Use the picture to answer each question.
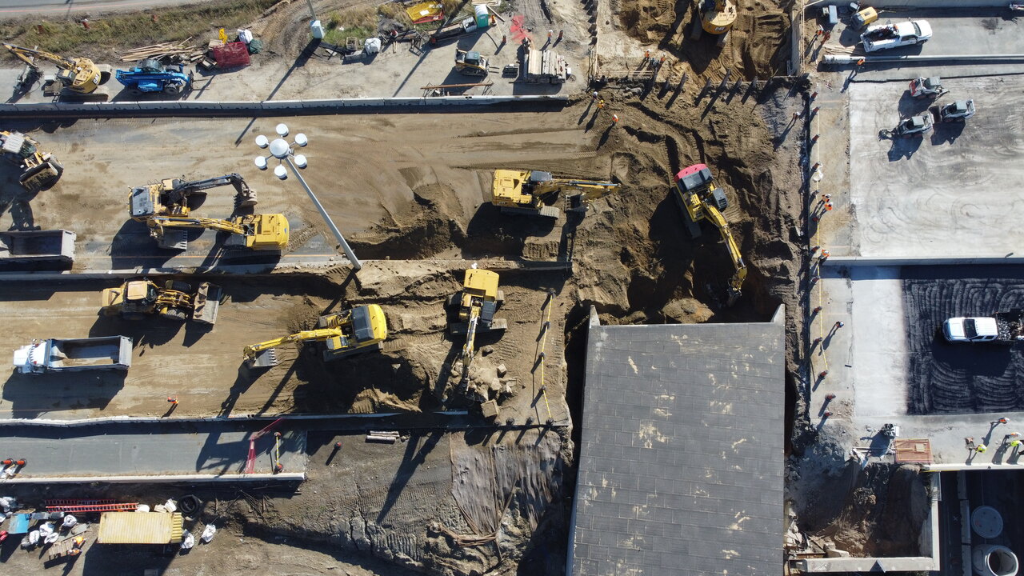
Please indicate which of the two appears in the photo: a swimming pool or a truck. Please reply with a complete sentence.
There is a truck in the scene.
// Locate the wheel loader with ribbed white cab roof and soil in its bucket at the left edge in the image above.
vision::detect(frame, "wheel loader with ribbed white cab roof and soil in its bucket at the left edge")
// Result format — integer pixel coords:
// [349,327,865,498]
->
[0,119,67,201]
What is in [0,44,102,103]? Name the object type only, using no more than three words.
work vehicle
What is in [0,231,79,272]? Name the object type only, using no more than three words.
truck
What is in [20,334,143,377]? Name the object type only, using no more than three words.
truck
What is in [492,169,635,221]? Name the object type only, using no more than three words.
work vehicle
